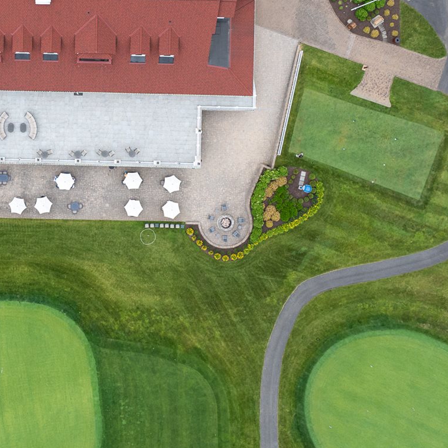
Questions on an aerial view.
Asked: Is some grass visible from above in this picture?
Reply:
Yes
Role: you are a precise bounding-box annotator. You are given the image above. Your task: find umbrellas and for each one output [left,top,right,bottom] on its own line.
[53,172,74,191]
[160,200,179,221]
[162,173,180,193]
[124,200,143,217]
[33,195,52,215]
[124,171,143,189]
[6,195,25,214]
